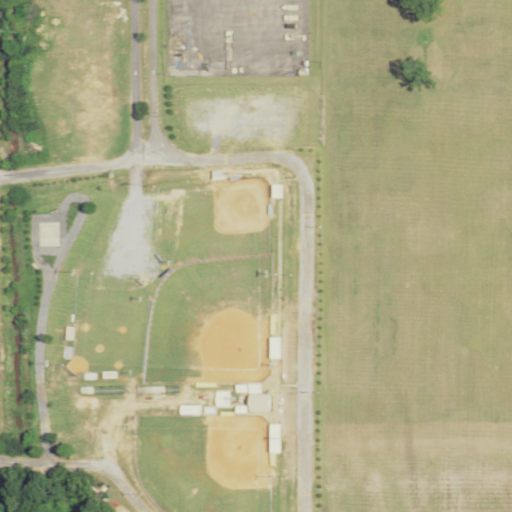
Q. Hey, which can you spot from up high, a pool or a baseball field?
baseball field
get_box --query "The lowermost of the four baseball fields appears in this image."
[132,416,270,512]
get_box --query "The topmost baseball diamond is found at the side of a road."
[166,178,271,265]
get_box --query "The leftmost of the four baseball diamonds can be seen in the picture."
[66,276,148,376]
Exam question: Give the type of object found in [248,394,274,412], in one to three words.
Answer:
building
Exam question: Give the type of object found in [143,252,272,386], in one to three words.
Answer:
baseball field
